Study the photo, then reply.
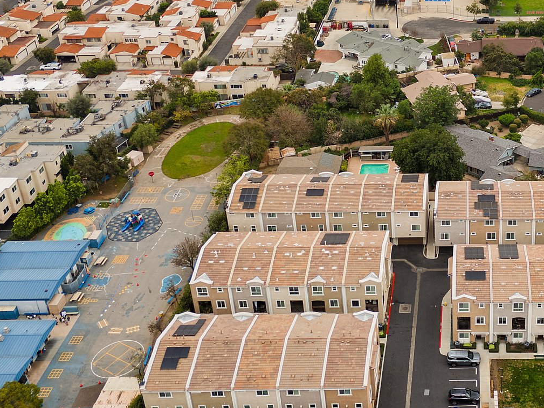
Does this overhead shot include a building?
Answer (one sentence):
Yes, there is a building in the image.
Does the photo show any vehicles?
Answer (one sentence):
Yes, this view includes a vehicle.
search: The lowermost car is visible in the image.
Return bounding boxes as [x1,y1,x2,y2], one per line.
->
[447,386,481,404]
